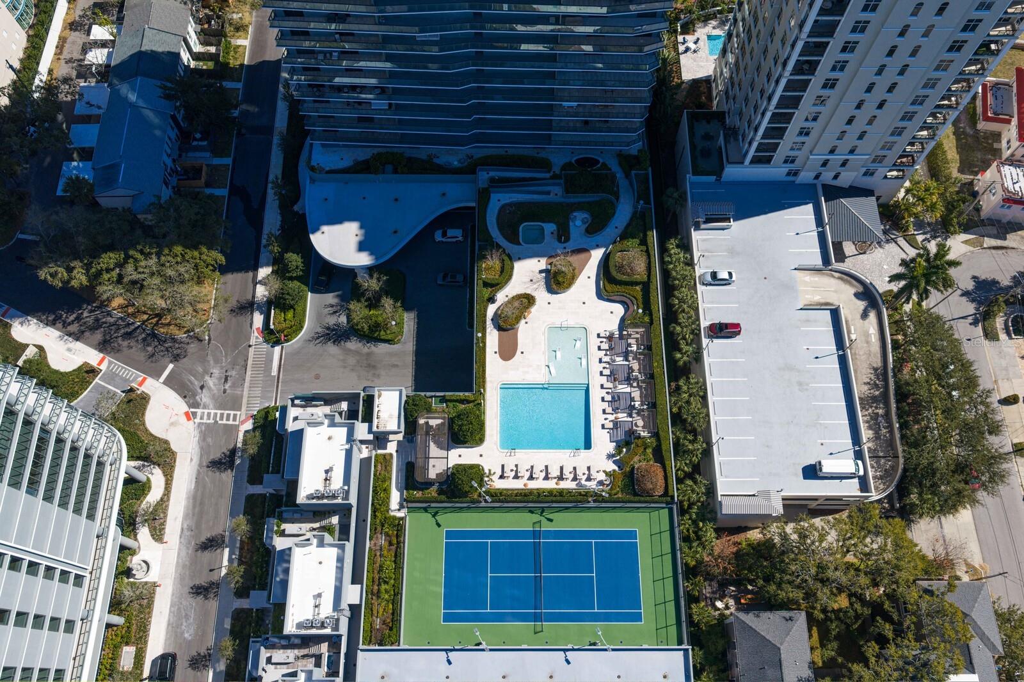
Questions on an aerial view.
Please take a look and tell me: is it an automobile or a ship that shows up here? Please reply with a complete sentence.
The image shows an automobile.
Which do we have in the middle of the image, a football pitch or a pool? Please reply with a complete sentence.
You can see a pool in the middle of the image.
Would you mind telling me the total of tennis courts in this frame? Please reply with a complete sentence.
Altogether the scene contains 1 tennis court.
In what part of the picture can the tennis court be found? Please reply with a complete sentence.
Look in the bottom portion of the view to spot the tennis court.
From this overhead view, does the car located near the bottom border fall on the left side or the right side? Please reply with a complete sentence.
The car located near the bottom border sits on the left side.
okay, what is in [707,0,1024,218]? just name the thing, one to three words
building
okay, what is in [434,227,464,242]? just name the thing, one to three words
car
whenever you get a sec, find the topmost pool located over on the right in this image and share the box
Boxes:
[705,31,731,56]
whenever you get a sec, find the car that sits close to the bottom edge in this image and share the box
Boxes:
[153,648,177,682]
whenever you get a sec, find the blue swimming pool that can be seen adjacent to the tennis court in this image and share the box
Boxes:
[498,324,593,451]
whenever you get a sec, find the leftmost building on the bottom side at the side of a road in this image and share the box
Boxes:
[0,355,151,682]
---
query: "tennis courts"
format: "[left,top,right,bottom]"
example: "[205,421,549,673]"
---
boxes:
[402,506,685,647]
